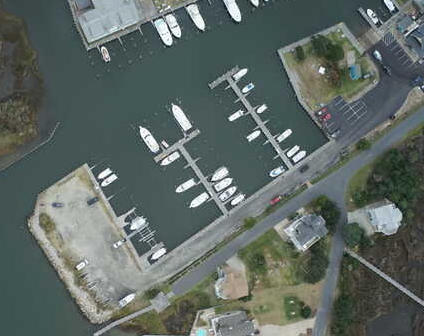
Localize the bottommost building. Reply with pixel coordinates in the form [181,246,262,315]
[208,310,257,336]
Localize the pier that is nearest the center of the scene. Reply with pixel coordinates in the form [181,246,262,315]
[153,129,239,215]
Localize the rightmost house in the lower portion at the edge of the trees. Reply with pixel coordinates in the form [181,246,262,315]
[362,200,402,235]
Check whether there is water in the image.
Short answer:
Yes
